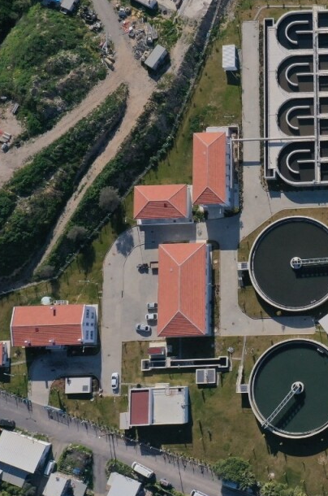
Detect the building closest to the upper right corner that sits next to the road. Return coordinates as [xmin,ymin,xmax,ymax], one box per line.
[193,127,243,208]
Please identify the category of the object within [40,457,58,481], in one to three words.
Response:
vehicle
